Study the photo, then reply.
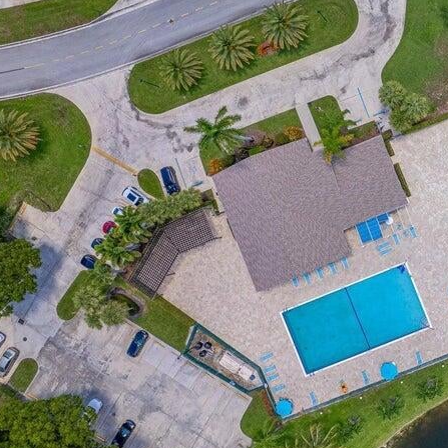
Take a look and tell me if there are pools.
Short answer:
Yes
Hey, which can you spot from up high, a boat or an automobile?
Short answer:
automobile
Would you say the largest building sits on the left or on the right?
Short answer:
right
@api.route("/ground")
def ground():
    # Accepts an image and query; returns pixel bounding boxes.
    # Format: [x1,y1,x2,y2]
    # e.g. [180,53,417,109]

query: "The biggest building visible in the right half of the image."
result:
[213,134,409,291]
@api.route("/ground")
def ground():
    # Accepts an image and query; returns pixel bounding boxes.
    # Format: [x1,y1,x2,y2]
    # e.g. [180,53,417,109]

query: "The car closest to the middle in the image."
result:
[157,163,178,193]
